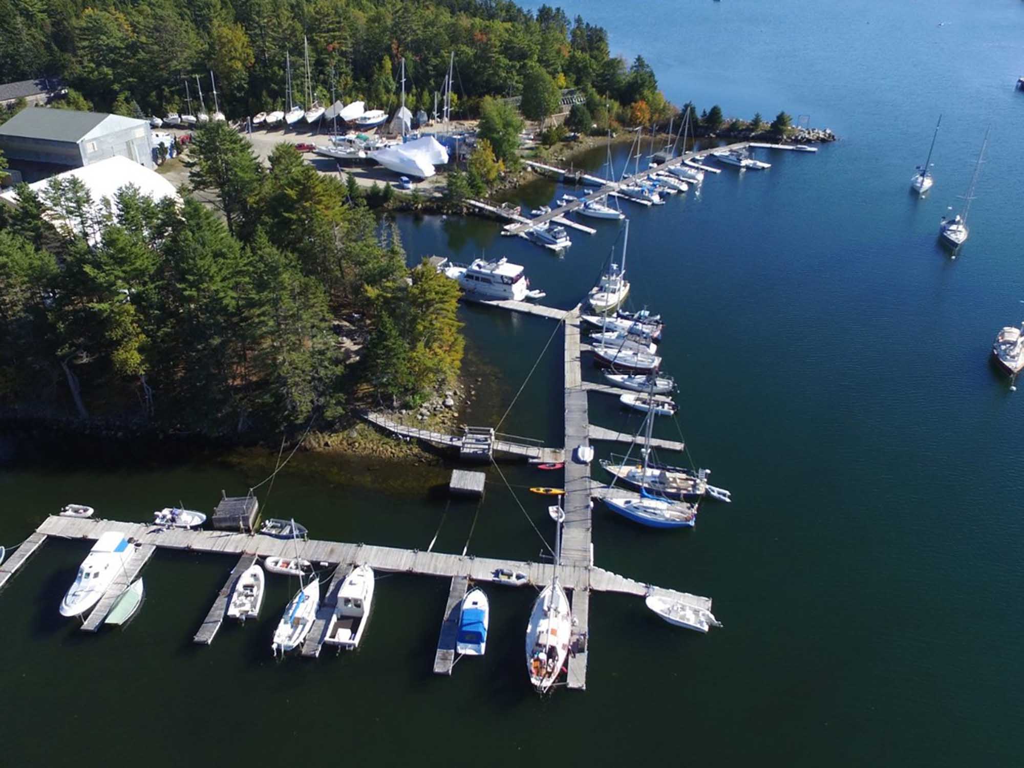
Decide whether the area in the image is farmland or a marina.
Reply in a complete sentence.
The picture captures a marina.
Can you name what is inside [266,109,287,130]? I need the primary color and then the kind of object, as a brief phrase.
white boat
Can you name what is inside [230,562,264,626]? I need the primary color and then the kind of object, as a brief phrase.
white boat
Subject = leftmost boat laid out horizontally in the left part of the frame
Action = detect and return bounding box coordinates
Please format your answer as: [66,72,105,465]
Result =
[59,503,93,517]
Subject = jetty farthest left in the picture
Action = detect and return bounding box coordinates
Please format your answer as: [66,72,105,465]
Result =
[0,533,48,592]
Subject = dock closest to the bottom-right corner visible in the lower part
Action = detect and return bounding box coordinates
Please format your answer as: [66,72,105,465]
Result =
[646,586,712,614]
